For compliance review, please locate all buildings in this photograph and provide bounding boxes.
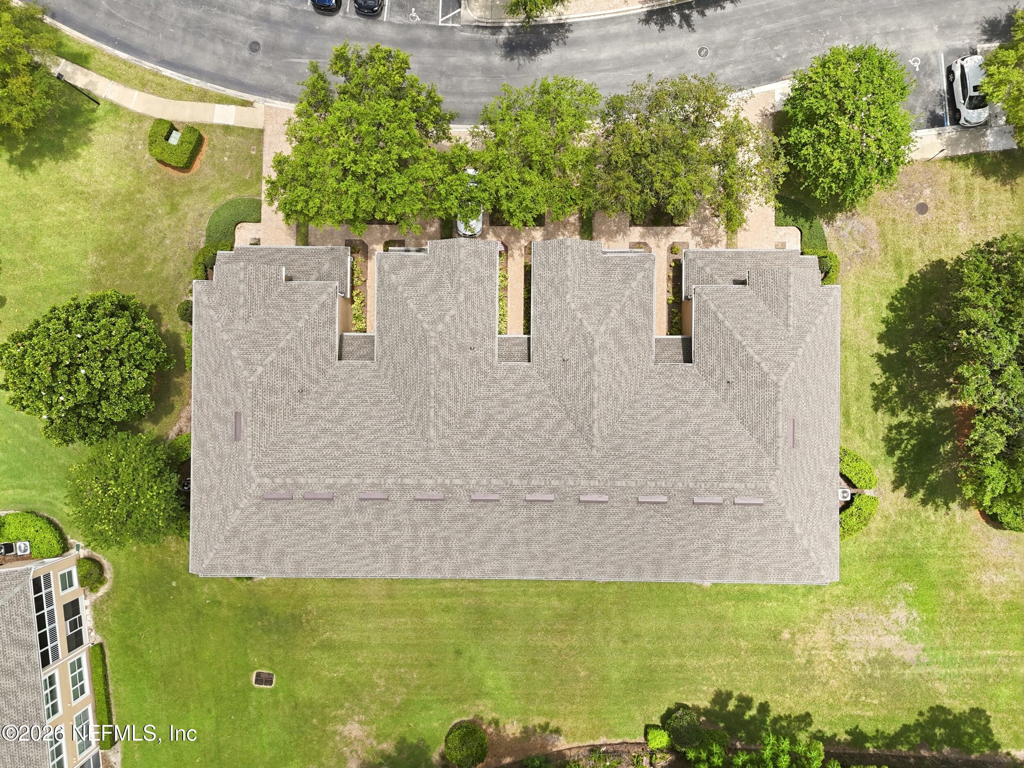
[0,551,107,768]
[187,237,842,584]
